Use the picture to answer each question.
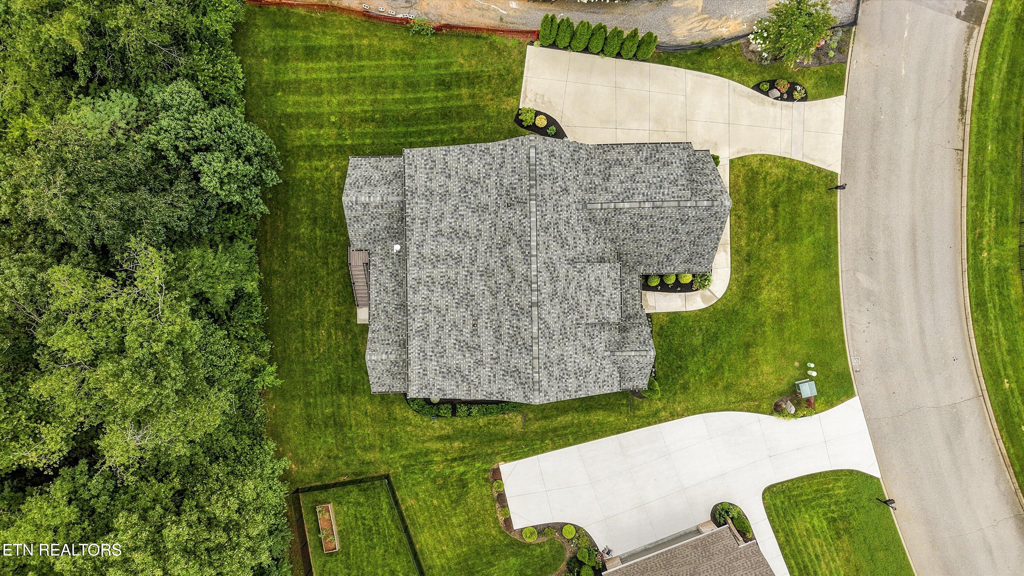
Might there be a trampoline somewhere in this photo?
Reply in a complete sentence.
No, the picture doesn't show any trampoline.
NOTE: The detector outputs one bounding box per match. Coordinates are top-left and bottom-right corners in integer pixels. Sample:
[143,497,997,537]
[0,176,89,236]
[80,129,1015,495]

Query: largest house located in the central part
[342,133,731,405]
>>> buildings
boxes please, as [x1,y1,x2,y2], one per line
[342,133,731,405]
[600,510,775,576]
